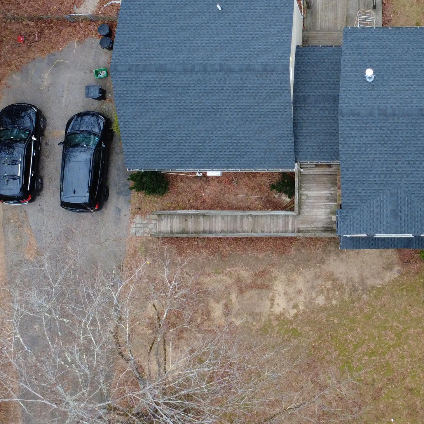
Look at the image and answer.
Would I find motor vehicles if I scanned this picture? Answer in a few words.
Yes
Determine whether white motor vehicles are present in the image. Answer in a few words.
No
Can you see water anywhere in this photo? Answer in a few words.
No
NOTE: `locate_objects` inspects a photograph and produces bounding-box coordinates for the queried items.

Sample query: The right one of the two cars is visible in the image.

[58,109,114,214]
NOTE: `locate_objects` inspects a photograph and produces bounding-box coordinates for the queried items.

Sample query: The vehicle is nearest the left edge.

[0,101,48,206]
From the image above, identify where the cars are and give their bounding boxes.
[0,101,48,206]
[58,109,114,214]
